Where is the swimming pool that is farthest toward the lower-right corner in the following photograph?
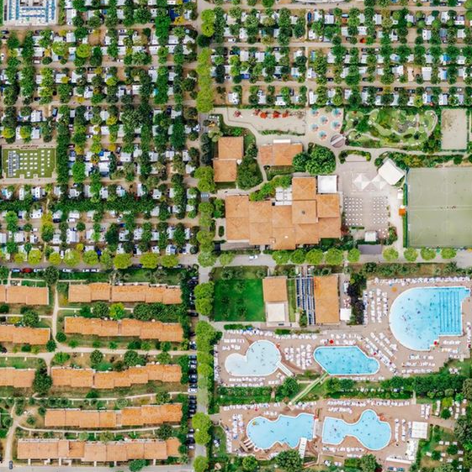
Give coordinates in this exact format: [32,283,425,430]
[321,409,392,451]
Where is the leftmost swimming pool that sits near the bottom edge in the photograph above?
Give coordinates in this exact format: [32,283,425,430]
[246,413,313,451]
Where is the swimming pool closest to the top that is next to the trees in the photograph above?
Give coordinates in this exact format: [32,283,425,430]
[388,286,471,351]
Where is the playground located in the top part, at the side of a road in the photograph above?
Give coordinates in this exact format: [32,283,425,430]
[211,106,345,149]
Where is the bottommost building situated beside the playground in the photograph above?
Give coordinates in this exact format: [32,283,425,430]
[226,175,341,250]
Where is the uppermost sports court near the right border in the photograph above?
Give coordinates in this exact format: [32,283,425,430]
[441,109,467,149]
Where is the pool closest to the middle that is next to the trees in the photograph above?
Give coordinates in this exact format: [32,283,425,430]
[225,341,282,376]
